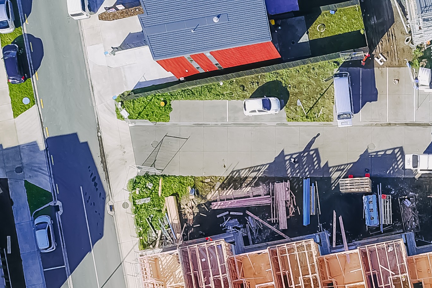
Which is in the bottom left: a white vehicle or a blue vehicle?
blue vehicle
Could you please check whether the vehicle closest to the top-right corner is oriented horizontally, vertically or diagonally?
vertically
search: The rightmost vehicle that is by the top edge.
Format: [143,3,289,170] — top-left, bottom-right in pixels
[67,0,92,26]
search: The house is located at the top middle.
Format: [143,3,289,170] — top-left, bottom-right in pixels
[141,0,300,78]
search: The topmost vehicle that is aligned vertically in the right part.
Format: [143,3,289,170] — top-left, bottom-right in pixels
[333,73,355,125]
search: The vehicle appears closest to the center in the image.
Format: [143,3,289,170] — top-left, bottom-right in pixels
[242,96,281,117]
